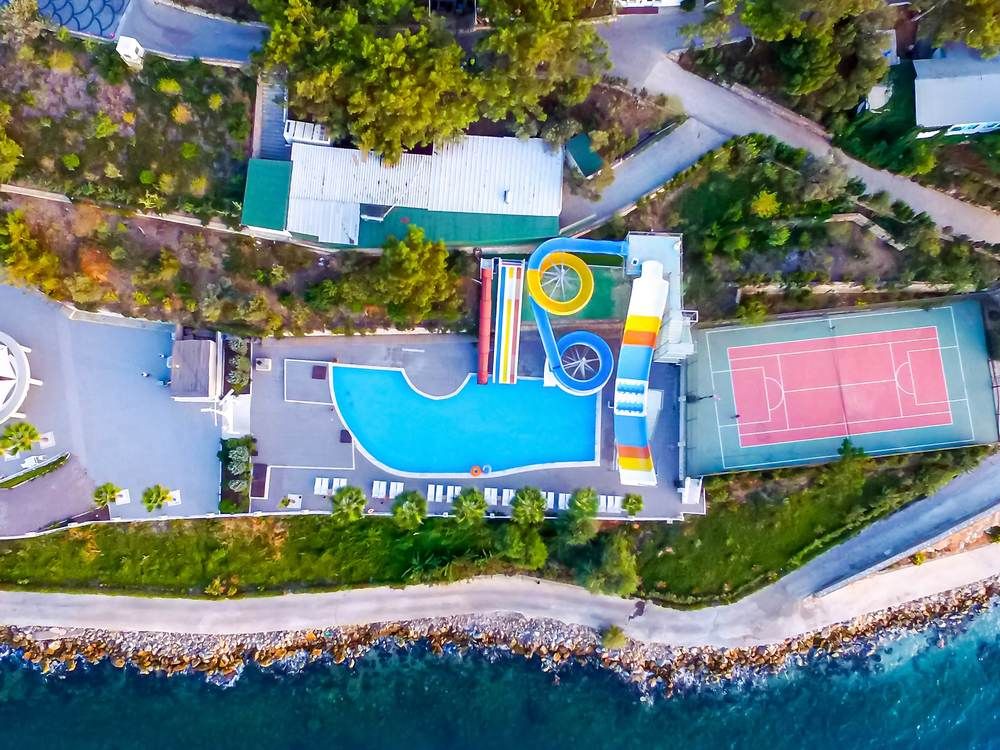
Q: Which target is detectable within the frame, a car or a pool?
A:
pool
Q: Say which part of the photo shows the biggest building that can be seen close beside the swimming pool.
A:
top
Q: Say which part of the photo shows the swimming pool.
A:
center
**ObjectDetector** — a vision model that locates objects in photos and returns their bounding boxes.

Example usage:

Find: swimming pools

[327,360,613,479]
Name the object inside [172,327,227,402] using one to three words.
shed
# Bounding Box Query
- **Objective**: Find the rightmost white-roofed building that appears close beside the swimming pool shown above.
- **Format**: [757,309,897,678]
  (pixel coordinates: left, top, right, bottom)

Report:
[287,138,562,250]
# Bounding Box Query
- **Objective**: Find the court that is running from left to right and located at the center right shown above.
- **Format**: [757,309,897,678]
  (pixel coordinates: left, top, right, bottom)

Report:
[690,298,999,476]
